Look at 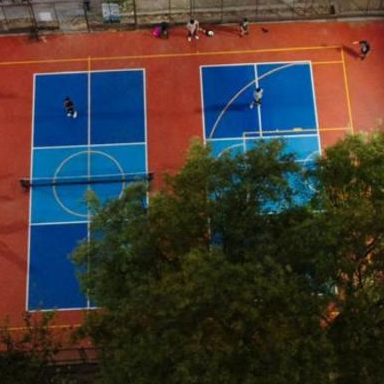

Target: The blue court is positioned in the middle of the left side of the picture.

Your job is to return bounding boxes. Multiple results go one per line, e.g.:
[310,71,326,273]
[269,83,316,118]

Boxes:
[26,68,150,311]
